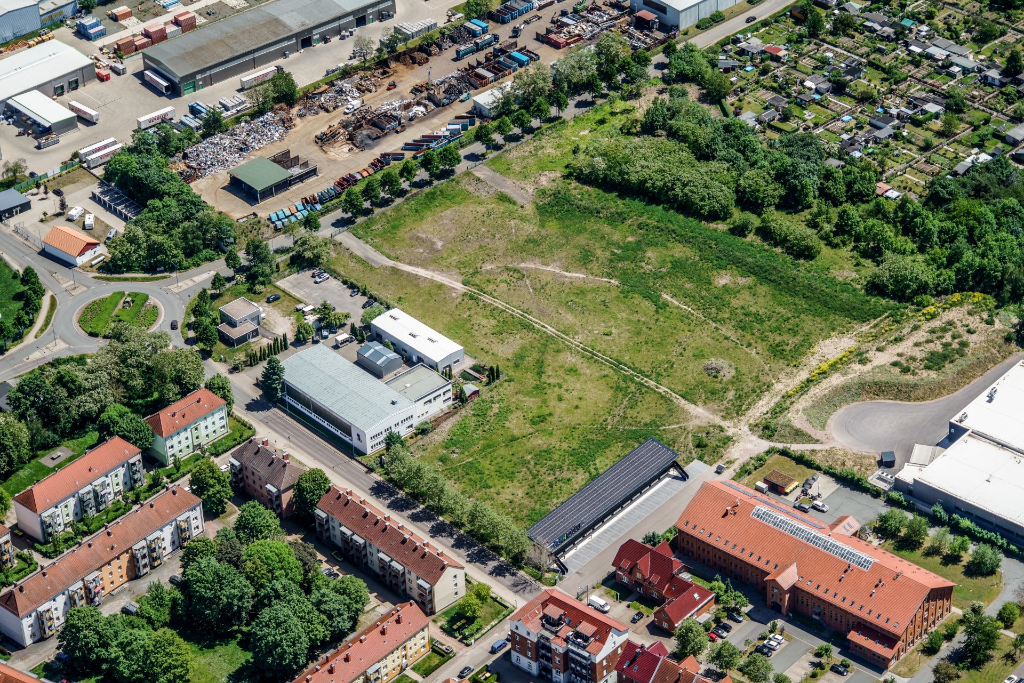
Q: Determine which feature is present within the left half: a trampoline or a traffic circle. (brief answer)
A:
traffic circle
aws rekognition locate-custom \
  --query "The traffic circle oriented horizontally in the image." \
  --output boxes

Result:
[51,281,184,353]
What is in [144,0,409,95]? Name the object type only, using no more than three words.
building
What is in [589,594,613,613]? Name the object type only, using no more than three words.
vehicle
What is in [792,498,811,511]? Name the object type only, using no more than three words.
vehicle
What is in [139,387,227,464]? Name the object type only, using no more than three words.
house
